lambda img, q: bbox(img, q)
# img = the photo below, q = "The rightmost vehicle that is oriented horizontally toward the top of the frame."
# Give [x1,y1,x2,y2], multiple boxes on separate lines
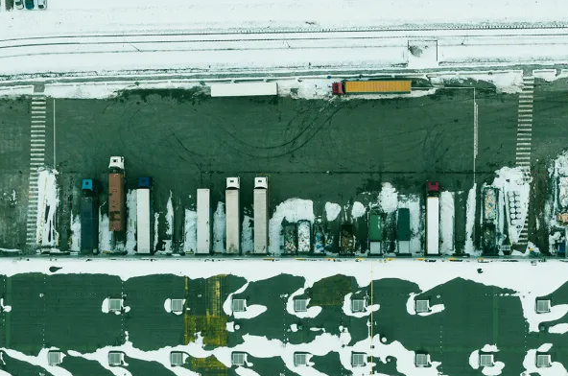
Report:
[334,80,412,96]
